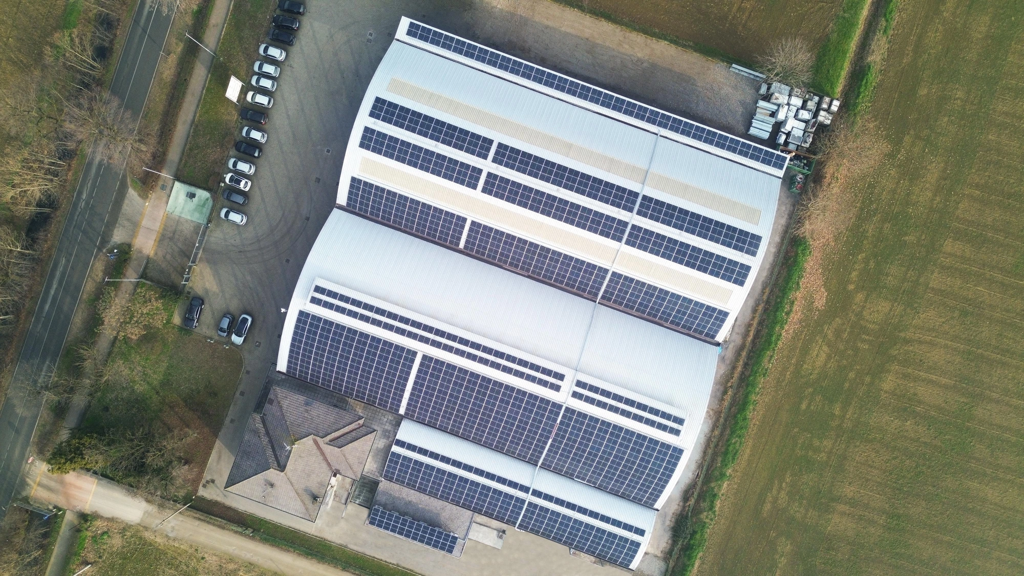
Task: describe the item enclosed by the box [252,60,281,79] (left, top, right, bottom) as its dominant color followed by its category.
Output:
white car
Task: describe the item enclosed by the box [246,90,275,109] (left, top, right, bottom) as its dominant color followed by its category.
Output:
white car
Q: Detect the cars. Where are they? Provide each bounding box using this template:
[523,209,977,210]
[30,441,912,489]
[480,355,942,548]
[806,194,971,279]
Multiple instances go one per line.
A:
[184,297,205,329]
[277,0,307,17]
[258,43,287,62]
[246,90,275,109]
[232,313,254,345]
[217,313,235,338]
[228,158,257,176]
[272,13,301,33]
[225,174,253,192]
[239,106,270,126]
[235,141,263,158]
[252,60,281,79]
[267,28,297,47]
[220,208,249,225]
[221,189,249,206]
[250,74,278,93]
[242,127,269,144]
